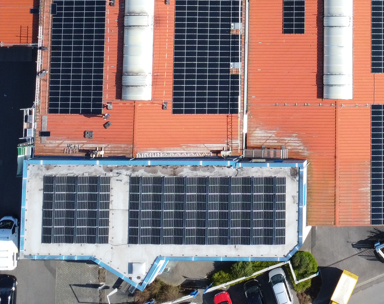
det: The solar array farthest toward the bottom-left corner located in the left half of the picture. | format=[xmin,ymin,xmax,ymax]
[42,175,112,244]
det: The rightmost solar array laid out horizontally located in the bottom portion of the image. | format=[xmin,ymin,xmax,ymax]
[128,175,285,244]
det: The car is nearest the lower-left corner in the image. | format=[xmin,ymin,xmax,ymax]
[0,274,15,304]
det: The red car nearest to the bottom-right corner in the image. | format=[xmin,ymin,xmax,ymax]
[216,289,233,304]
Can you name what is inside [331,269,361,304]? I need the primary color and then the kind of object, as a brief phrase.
white truck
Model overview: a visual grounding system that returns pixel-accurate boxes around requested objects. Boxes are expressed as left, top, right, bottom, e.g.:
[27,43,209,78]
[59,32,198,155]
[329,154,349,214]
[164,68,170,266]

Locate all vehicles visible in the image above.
[271,266,294,304]
[331,269,361,304]
[0,215,20,274]
[216,289,233,304]
[0,274,15,304]
[247,278,267,304]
